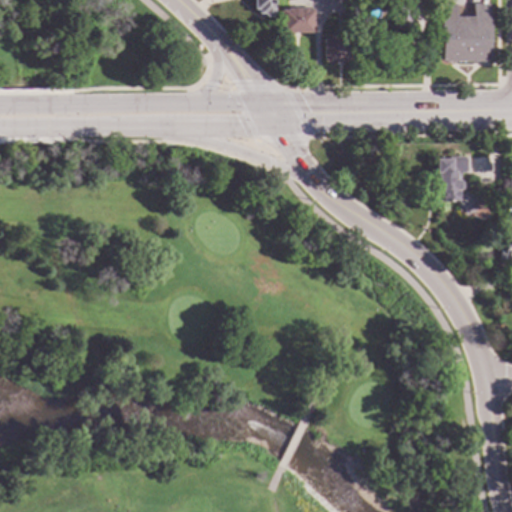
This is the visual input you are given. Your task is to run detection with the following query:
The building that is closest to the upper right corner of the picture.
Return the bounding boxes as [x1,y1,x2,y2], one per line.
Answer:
[446,1,496,62]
